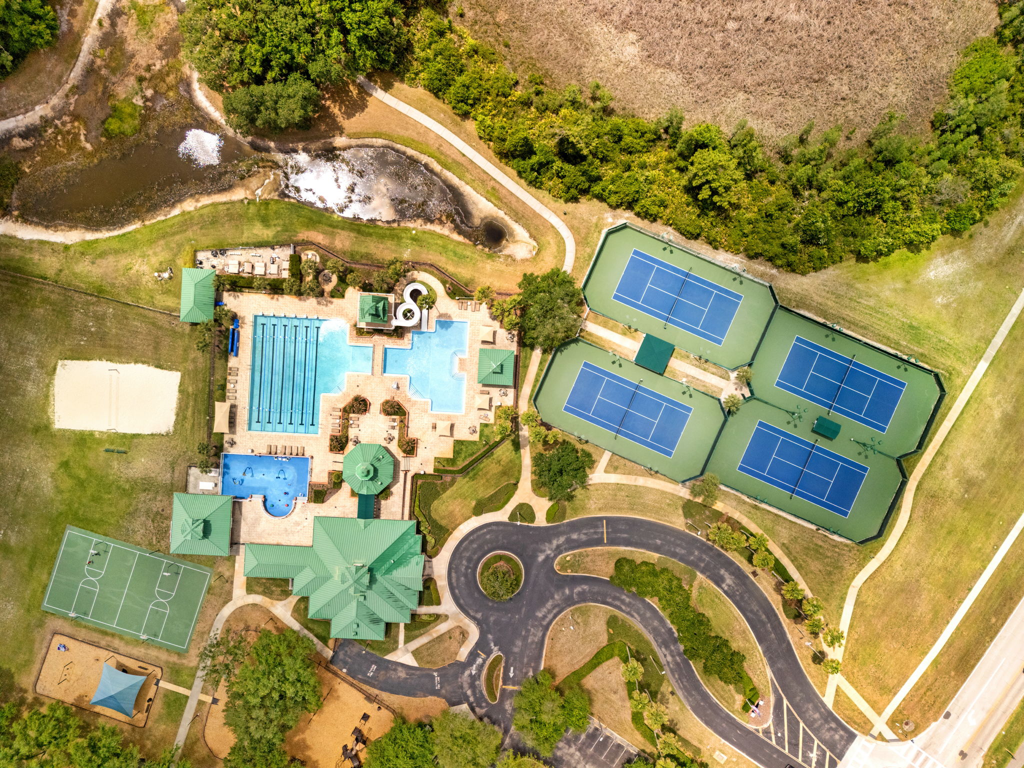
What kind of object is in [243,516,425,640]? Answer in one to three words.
building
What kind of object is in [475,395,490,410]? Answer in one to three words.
umbrella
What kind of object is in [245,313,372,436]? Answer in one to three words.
swimming pool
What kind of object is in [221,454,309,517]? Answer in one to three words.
swimming pool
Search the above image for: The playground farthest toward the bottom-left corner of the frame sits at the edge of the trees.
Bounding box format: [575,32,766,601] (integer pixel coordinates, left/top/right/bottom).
[34,632,163,728]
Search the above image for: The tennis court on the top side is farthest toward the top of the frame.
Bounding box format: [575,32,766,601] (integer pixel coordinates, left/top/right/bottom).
[586,226,774,368]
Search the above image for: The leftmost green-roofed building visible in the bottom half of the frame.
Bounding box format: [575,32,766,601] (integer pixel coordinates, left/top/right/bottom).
[170,493,235,556]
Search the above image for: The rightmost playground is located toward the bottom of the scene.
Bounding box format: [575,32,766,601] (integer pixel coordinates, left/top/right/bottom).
[203,635,393,768]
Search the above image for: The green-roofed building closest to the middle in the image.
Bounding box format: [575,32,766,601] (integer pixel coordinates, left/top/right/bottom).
[477,348,515,386]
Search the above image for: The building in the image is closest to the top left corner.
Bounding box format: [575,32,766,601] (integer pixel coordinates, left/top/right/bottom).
[180,268,219,323]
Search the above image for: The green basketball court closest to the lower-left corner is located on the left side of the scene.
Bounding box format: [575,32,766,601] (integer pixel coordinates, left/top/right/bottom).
[42,525,213,653]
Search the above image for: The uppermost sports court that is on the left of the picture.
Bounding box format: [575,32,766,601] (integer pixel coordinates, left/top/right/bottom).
[53,360,181,434]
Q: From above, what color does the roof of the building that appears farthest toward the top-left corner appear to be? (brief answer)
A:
green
